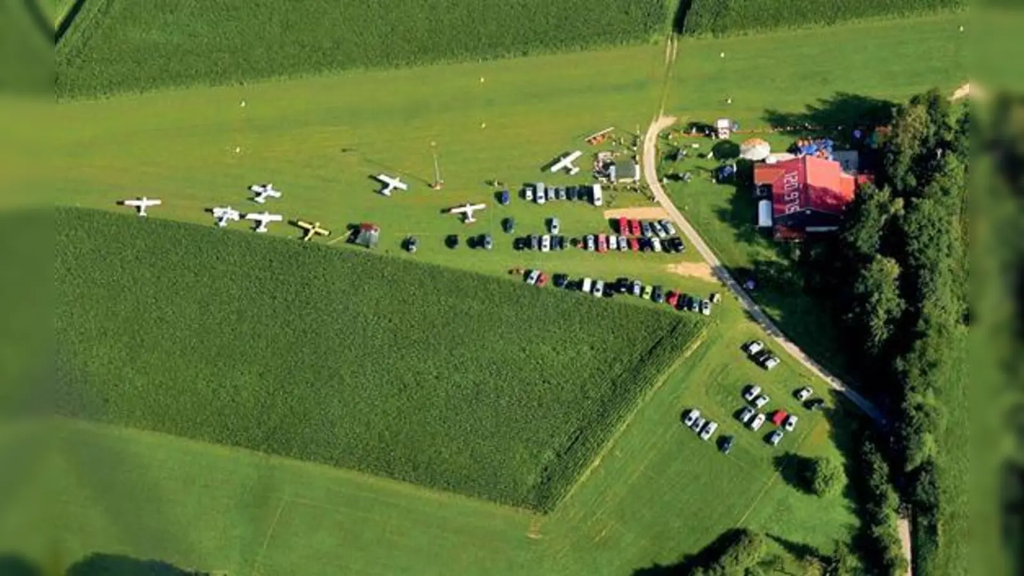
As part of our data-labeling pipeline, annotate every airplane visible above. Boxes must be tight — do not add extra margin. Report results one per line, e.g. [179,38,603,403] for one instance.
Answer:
[549,151,583,175]
[213,208,241,227]
[296,218,332,241]
[123,197,161,217]
[376,174,408,196]
[250,183,283,203]
[449,204,487,224]
[245,211,283,232]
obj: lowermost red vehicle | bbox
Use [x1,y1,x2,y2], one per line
[769,408,788,429]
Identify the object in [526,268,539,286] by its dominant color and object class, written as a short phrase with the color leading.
white vehicle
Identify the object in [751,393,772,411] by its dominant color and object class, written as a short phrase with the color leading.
white car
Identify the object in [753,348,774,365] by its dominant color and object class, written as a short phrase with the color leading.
black car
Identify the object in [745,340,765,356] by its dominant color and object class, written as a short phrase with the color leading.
white car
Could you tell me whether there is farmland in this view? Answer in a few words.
Yes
